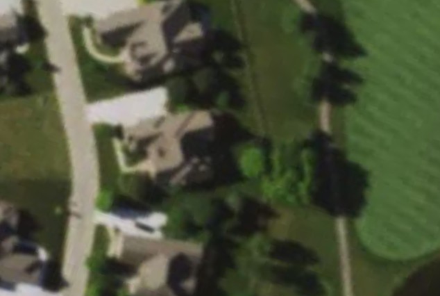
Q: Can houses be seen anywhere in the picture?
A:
Yes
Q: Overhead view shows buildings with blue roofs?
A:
No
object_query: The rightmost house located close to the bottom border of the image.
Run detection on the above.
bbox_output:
[111,228,204,296]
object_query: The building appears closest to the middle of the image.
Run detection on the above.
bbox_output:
[109,101,227,194]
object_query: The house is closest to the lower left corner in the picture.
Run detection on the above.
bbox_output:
[0,215,41,292]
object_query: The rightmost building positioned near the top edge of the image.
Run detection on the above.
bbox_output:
[90,0,211,85]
